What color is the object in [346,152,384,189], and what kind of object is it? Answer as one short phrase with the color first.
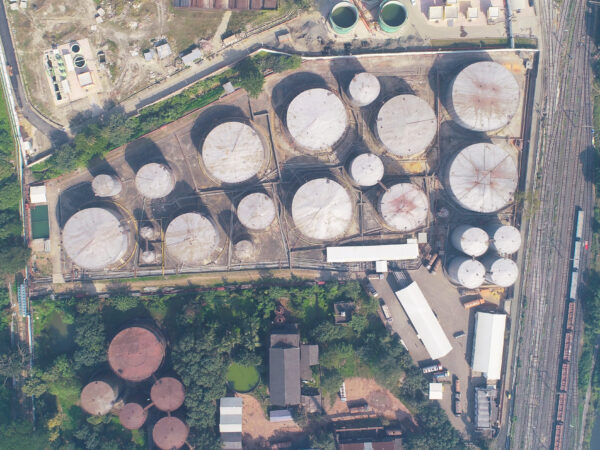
white storage tank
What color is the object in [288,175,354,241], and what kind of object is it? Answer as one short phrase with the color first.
white storage tank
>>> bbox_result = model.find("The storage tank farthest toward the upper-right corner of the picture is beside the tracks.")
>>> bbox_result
[442,61,520,135]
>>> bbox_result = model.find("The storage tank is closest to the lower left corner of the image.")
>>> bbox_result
[80,373,124,415]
